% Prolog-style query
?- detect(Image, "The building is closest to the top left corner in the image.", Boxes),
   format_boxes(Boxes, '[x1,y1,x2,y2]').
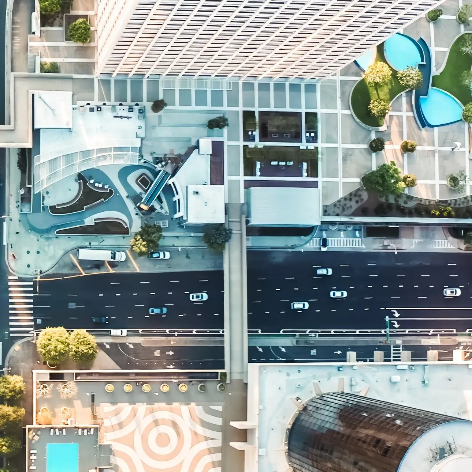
[32,90,146,197]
